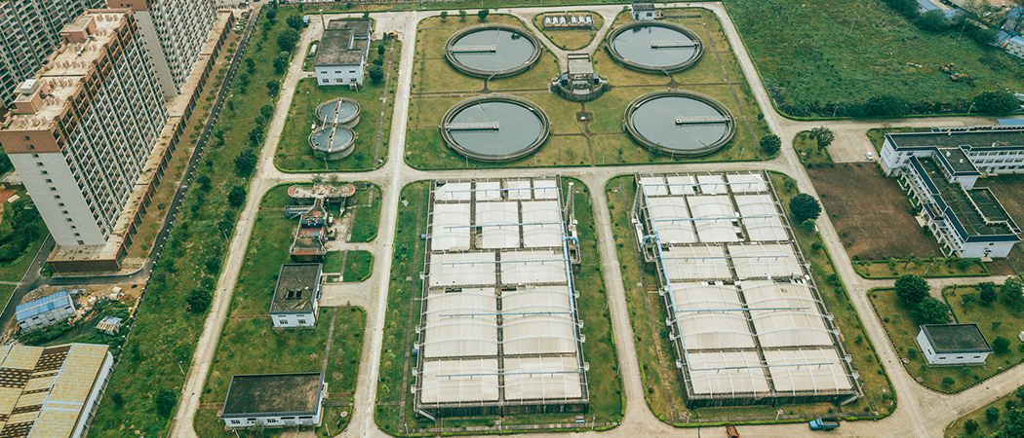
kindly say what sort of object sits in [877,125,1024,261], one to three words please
building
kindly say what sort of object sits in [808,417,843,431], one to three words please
vehicle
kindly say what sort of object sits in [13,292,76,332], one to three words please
shed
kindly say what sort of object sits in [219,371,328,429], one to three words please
house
